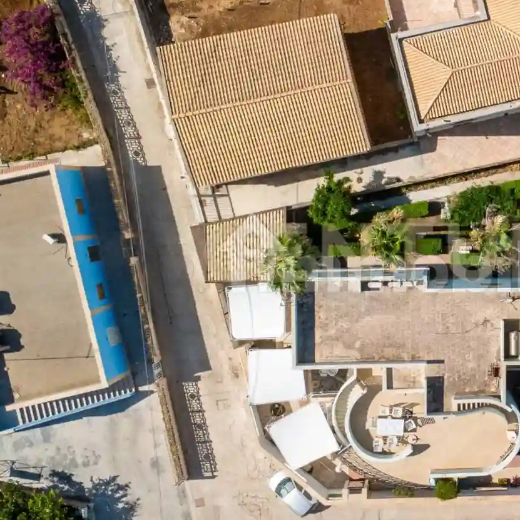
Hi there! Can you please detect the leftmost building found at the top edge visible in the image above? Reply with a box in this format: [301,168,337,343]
[158,14,373,187]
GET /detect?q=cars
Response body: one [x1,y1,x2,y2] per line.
[268,469,320,518]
